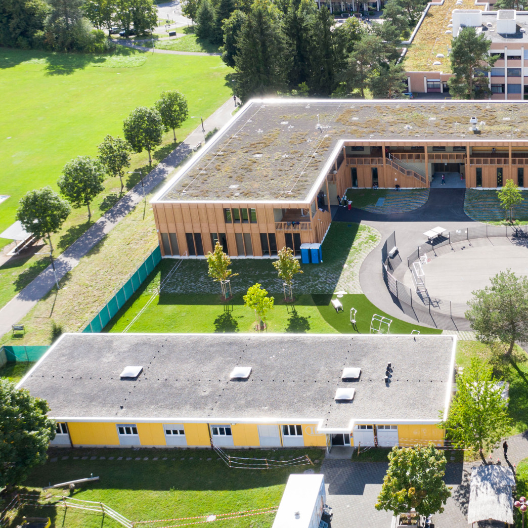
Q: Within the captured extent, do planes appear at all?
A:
No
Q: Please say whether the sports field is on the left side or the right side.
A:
left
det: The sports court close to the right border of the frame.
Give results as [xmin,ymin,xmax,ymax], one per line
[403,237,528,318]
